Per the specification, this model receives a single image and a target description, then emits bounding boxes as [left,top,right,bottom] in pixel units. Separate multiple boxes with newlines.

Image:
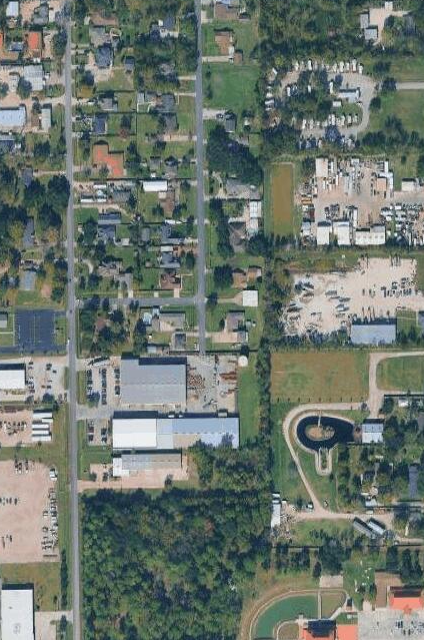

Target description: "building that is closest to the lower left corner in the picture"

[0,589,34,640]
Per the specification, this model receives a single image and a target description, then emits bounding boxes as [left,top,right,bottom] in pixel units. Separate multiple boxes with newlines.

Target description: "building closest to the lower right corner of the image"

[388,589,424,614]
